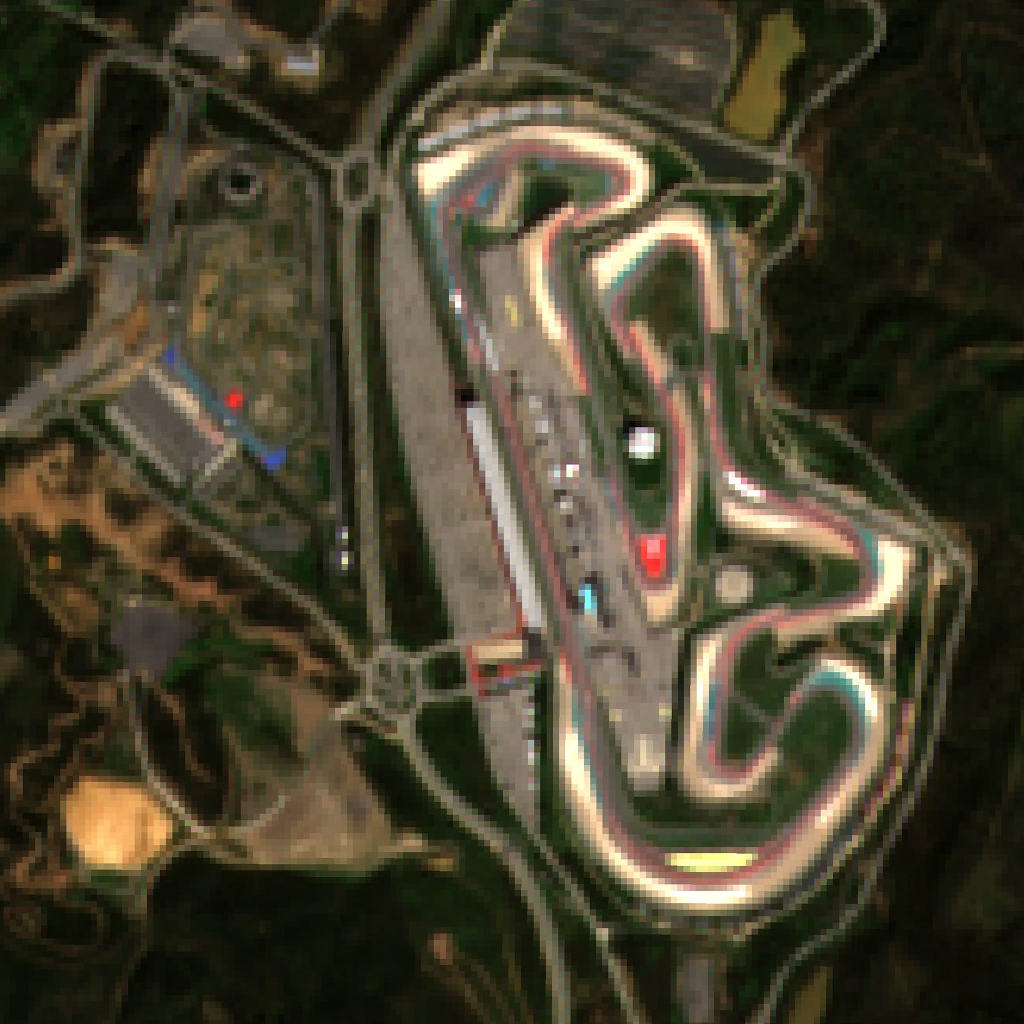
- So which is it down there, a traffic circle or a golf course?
traffic circle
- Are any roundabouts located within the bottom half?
Yes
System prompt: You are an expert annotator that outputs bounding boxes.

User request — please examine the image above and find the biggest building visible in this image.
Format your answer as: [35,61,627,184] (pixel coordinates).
[472,643,536,686]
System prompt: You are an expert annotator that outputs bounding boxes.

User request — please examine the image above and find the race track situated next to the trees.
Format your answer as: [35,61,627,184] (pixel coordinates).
[444,145,872,883]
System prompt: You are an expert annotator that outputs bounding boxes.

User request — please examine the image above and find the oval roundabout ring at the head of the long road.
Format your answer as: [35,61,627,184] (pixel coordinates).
[335,149,377,208]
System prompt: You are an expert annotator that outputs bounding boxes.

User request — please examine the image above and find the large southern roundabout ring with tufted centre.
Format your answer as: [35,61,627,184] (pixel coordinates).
[366,648,421,715]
